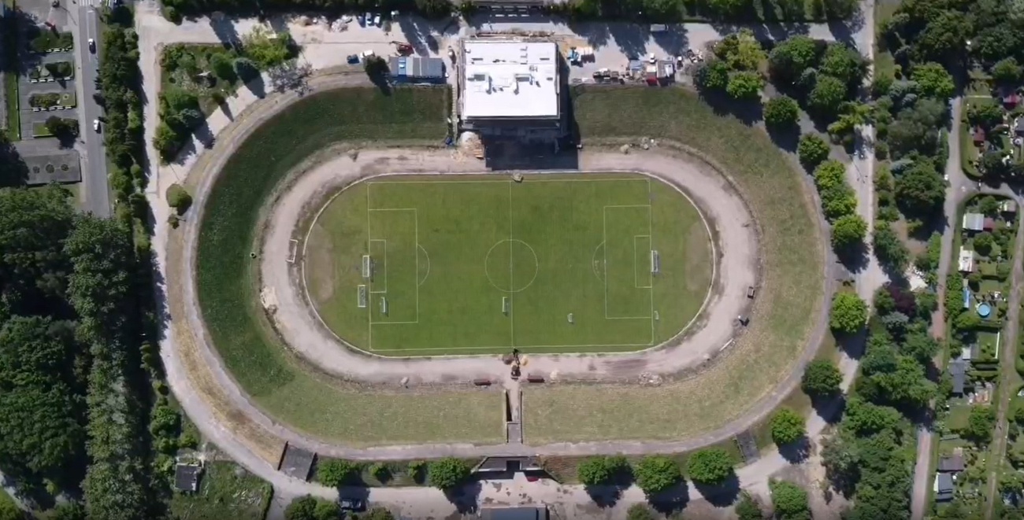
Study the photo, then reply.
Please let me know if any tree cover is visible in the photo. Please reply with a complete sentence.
Yes, some tree cover is visible.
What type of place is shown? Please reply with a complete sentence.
The picture captures a sports ground.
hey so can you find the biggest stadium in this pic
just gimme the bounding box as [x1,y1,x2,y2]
[183,74,834,459]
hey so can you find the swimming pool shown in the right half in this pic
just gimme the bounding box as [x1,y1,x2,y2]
[975,304,992,318]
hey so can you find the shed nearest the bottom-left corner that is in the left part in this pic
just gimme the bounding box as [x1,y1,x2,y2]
[174,462,201,492]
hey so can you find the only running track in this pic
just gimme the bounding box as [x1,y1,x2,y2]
[260,146,761,387]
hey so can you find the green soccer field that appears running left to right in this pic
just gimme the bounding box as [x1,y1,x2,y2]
[304,172,714,358]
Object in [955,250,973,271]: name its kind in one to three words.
shed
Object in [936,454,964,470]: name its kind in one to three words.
shed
